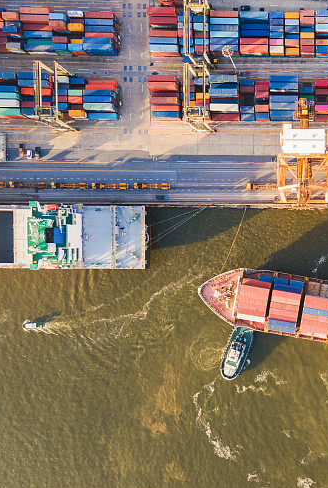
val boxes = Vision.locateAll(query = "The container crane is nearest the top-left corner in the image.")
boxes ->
[30,58,77,133]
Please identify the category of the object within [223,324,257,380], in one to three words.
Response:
boat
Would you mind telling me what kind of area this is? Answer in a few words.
port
